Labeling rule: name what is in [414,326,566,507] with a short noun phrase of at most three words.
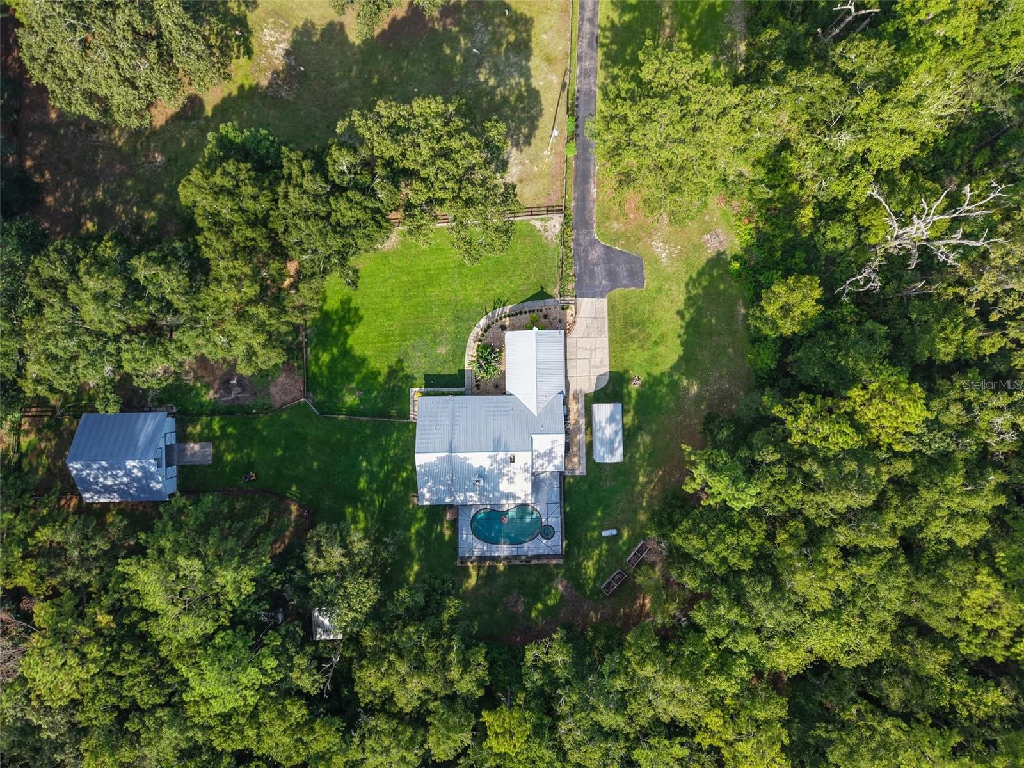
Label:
house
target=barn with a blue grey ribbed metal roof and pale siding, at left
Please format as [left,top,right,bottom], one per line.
[66,413,176,503]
